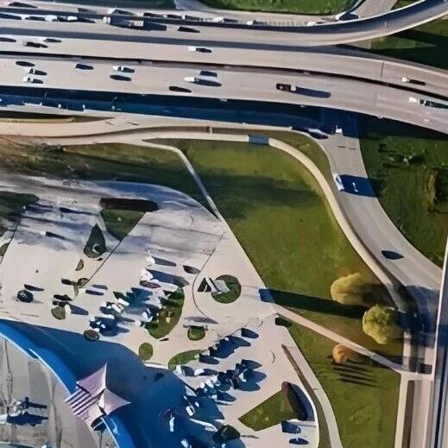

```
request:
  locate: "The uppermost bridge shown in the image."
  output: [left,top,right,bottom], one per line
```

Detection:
[0,0,448,50]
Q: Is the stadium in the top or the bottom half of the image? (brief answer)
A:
bottom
